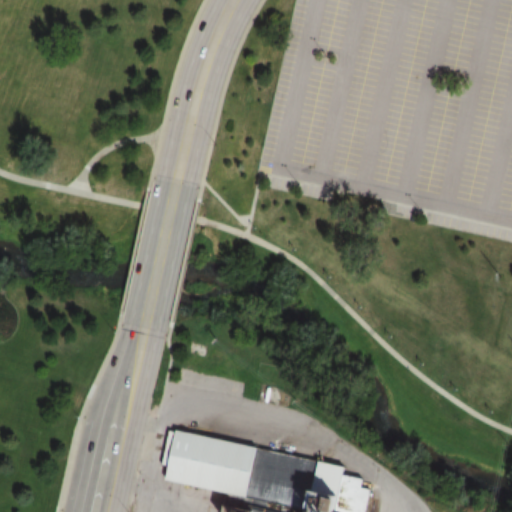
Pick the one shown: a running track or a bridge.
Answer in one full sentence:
The image shows a bridge.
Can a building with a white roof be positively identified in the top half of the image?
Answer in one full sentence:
No, there is no building with a white roof in the top half of the image.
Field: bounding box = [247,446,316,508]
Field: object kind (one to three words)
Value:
building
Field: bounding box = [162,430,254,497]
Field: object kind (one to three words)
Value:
building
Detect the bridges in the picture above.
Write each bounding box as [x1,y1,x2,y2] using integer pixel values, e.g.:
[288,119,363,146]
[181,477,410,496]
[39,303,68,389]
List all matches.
[118,176,206,338]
